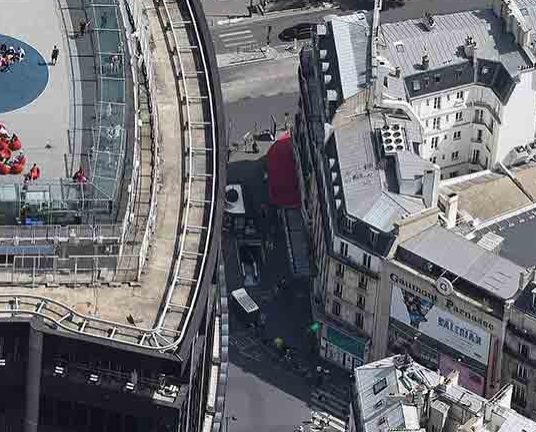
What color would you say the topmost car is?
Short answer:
black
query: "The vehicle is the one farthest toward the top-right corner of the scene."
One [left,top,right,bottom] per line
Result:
[276,23,307,43]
